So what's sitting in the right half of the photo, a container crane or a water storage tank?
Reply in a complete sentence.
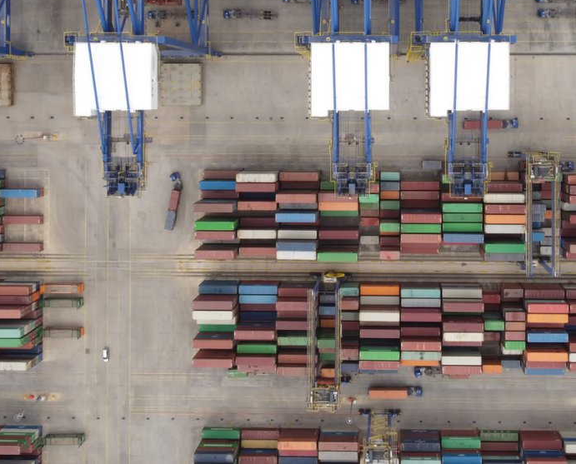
It is a container crane that can be seen in the right half of the photo.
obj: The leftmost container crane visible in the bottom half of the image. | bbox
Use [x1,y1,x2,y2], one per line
[306,267,354,411]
